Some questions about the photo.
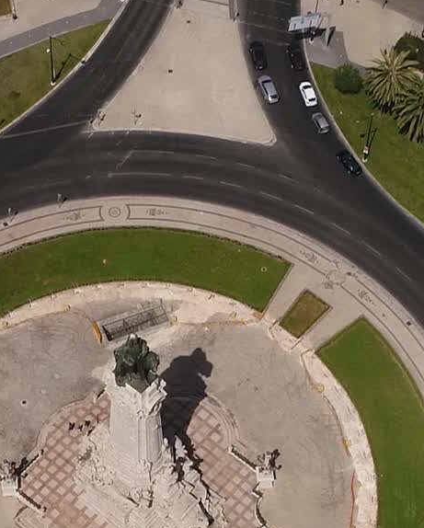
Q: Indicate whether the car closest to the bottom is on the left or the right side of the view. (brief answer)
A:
right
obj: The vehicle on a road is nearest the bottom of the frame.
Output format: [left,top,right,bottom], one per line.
[334,148,363,176]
